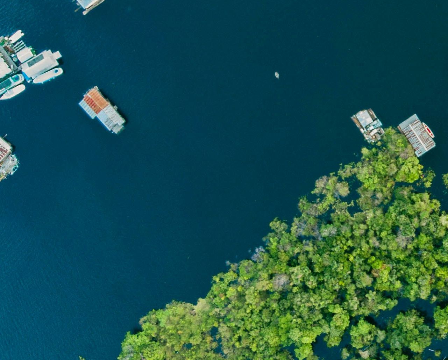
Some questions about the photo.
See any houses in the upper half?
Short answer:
Yes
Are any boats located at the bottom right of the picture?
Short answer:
No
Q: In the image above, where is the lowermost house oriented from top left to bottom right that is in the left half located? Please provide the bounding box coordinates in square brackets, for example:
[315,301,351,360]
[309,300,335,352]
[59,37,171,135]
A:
[79,86,128,133]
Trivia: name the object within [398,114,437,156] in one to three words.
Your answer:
house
